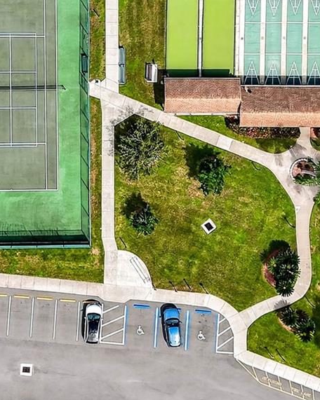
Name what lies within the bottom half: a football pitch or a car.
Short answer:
car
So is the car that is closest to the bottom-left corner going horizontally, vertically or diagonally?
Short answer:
vertically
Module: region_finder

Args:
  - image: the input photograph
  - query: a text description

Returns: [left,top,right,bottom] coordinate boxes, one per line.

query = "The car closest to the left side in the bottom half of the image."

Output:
[84,302,104,344]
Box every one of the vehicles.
[84,302,104,344]
[160,306,180,346]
